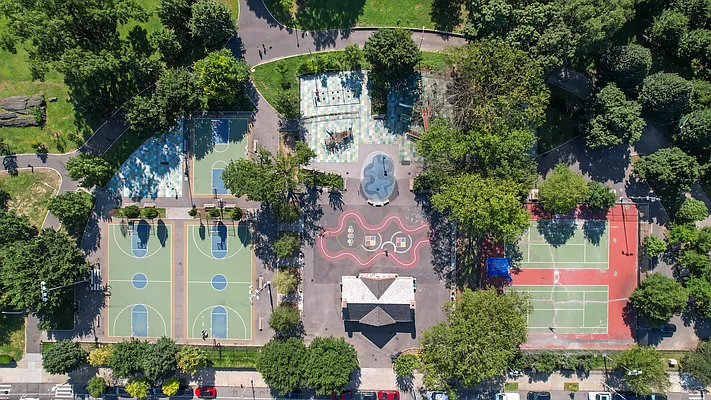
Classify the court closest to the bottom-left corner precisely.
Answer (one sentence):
The court closest to the bottom-left corner is a basketball court.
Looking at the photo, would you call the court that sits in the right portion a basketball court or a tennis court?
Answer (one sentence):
The court that sits in the right portion appears to be a tennis court.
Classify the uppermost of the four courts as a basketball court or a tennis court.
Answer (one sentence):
The uppermost of the four courts can be classified as a basketball court.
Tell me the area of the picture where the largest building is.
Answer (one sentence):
The largest building is located in the bottom region of the scene.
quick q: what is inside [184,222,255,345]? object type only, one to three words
basketball court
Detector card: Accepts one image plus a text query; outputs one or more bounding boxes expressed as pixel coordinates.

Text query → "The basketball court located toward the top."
[190,115,252,198]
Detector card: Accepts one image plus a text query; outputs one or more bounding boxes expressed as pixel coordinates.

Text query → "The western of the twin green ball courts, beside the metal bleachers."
[105,222,174,342]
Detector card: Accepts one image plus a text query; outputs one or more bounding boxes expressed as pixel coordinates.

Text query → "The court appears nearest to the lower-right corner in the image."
[480,204,637,349]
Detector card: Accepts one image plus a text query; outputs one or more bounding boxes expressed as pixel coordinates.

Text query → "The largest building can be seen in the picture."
[340,267,419,329]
